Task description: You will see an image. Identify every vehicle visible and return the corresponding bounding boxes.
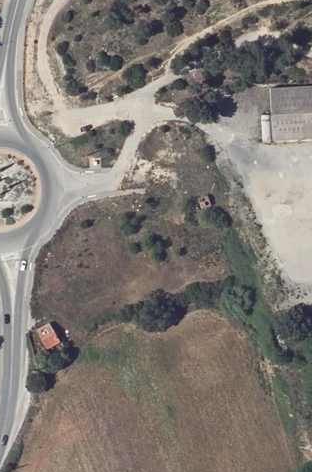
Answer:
[20,260,26,270]
[81,124,92,132]
[2,434,8,445]
[4,314,10,324]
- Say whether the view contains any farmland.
Yes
